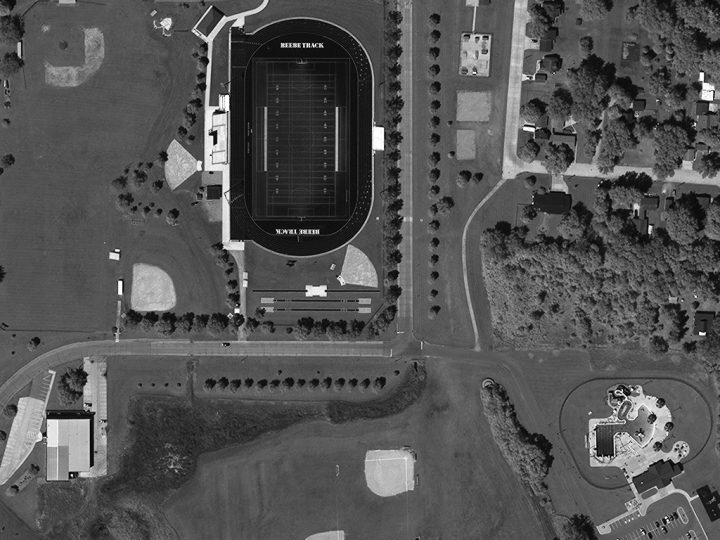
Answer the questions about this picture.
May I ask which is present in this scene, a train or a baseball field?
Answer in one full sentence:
Looking from above, you can make out a baseball field.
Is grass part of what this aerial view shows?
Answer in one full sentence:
Yes, there is grass in the image.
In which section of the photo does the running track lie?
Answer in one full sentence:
Look in the top portion of the view to spot the running track.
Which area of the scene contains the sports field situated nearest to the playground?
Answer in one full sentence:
The sports field situated nearest to the playground appears toward the top of the photo.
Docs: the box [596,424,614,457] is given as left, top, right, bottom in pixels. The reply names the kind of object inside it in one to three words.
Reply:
swimming pool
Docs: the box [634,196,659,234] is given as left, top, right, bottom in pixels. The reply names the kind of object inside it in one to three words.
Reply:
house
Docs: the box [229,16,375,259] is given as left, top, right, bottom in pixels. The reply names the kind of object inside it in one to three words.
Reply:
running track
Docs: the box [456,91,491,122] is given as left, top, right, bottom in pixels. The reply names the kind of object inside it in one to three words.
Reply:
sports court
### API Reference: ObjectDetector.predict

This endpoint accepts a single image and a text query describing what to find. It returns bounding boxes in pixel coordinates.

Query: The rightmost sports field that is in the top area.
[252,58,353,221]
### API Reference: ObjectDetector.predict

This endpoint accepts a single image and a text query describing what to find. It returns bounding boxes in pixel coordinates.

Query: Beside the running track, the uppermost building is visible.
[196,6,224,37]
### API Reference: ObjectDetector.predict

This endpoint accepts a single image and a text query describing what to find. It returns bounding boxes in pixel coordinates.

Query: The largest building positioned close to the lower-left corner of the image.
[46,416,90,480]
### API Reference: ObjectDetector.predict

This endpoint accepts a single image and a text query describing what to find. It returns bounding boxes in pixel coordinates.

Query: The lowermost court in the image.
[456,130,476,160]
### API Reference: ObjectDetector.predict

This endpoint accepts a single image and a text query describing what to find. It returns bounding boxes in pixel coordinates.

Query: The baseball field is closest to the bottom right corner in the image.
[365,449,414,508]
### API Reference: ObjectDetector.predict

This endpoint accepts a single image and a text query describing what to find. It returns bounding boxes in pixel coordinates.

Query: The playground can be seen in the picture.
[458,33,492,77]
